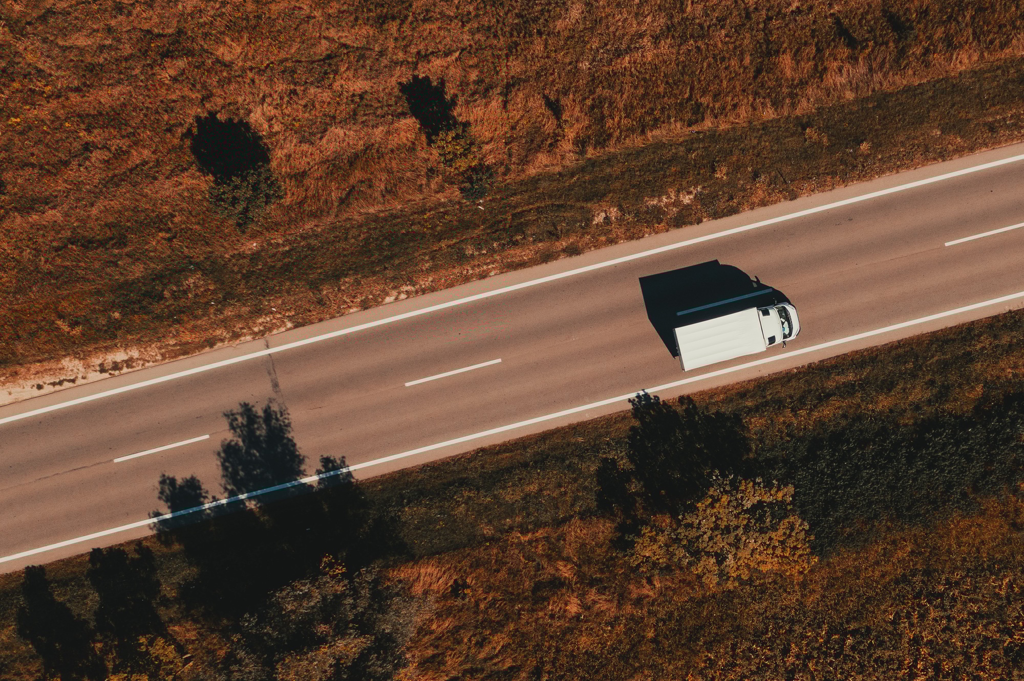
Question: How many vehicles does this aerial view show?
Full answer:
Only 1 vehicle is visible.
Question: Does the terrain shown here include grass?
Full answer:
Yes, there's grass in this view.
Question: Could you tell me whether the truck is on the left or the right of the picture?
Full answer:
The truck appears in the right half of the scene.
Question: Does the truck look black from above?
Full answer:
No, the truck is white.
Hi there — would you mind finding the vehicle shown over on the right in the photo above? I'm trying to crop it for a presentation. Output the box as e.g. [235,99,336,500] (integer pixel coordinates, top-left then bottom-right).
[669,297,802,371]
